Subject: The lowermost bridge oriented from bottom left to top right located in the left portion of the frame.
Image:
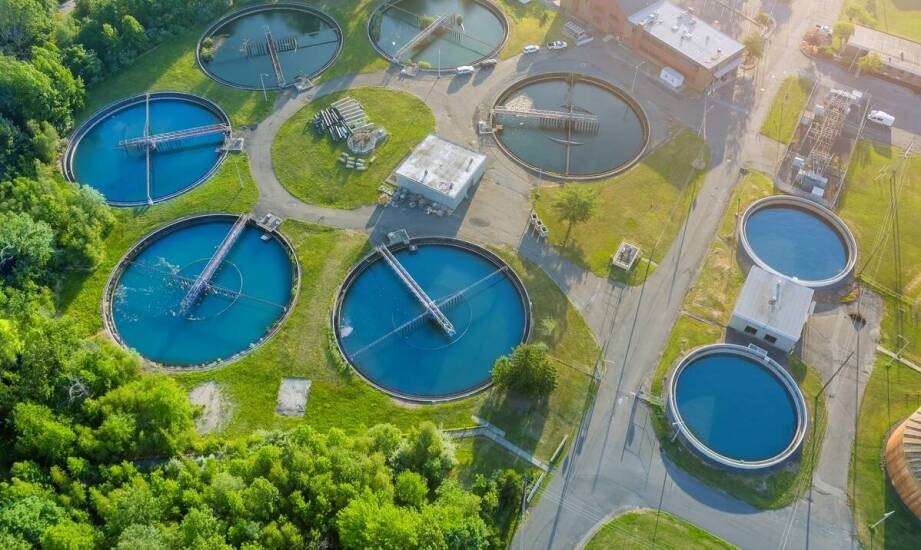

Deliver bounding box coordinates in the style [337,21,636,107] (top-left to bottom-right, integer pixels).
[181,208,250,312]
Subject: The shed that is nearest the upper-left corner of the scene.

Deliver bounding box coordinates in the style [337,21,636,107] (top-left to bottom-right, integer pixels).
[395,133,487,212]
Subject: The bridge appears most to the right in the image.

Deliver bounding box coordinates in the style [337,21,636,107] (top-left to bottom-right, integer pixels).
[490,102,600,126]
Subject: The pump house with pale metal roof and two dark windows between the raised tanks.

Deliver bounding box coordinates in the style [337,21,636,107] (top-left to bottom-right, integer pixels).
[726,265,814,352]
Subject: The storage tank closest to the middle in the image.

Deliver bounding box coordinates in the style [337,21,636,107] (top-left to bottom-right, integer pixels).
[332,221,532,403]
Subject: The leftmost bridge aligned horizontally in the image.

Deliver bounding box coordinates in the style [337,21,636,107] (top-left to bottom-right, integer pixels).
[117,120,233,149]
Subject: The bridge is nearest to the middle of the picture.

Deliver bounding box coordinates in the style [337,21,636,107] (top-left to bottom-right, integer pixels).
[374,240,454,335]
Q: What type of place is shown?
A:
industrial area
